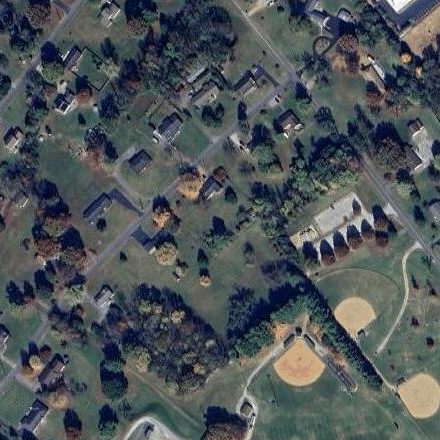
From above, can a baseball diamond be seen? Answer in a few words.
Yes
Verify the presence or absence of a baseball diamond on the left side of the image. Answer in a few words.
No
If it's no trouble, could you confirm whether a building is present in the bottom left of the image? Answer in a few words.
Yes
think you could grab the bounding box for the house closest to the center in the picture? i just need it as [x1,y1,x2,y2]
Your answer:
[199,178,223,202]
